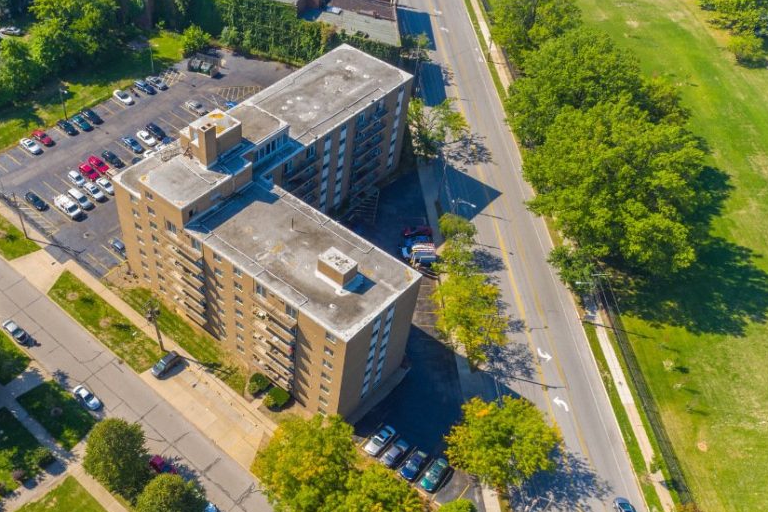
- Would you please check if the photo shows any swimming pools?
No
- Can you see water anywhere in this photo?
No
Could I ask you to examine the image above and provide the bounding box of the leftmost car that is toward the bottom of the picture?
[3,321,29,344]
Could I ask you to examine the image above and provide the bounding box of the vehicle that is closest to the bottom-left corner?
[73,384,102,411]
